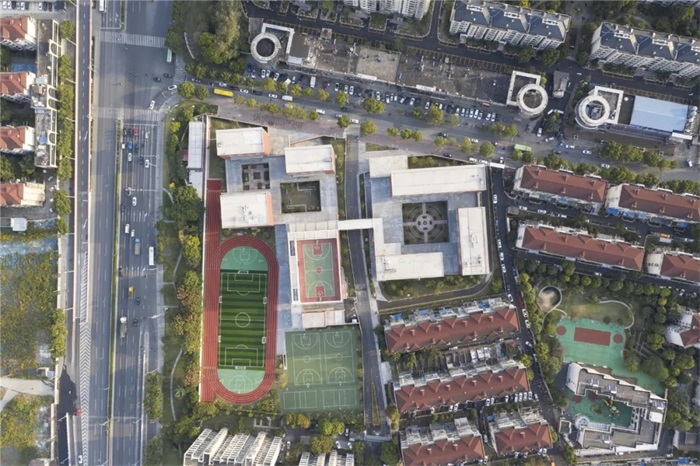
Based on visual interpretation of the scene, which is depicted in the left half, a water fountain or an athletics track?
athletics track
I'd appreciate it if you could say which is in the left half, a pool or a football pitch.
football pitch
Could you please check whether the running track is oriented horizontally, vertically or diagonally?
vertically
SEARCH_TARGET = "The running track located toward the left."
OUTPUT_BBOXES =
[202,180,278,403]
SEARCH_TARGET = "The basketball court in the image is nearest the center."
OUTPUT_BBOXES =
[297,238,340,303]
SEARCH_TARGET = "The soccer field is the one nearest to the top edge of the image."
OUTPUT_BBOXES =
[217,271,267,367]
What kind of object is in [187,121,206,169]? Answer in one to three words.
shed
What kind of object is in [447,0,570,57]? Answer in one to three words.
building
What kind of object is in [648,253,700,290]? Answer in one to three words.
house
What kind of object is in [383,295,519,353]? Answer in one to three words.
house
